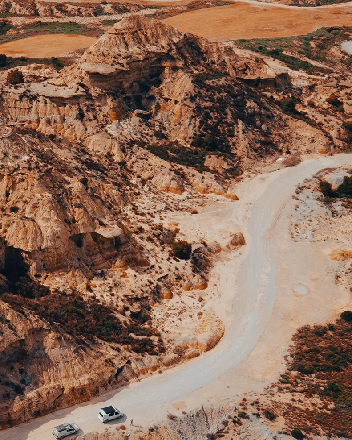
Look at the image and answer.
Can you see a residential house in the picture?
No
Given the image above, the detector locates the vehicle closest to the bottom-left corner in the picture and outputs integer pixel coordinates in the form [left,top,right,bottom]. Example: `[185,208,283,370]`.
[53,423,80,438]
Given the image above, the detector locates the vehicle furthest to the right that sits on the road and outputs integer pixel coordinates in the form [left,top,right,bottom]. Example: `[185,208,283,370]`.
[98,405,124,423]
